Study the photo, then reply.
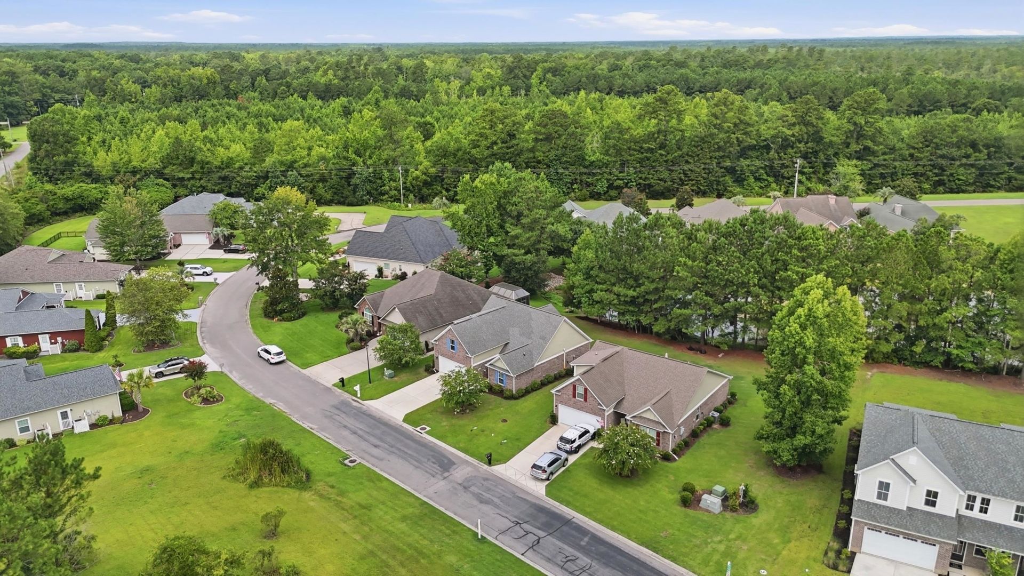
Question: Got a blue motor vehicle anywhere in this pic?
No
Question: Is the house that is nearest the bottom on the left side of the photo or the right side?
right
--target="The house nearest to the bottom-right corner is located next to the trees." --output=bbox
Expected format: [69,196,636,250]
[847,403,1024,576]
